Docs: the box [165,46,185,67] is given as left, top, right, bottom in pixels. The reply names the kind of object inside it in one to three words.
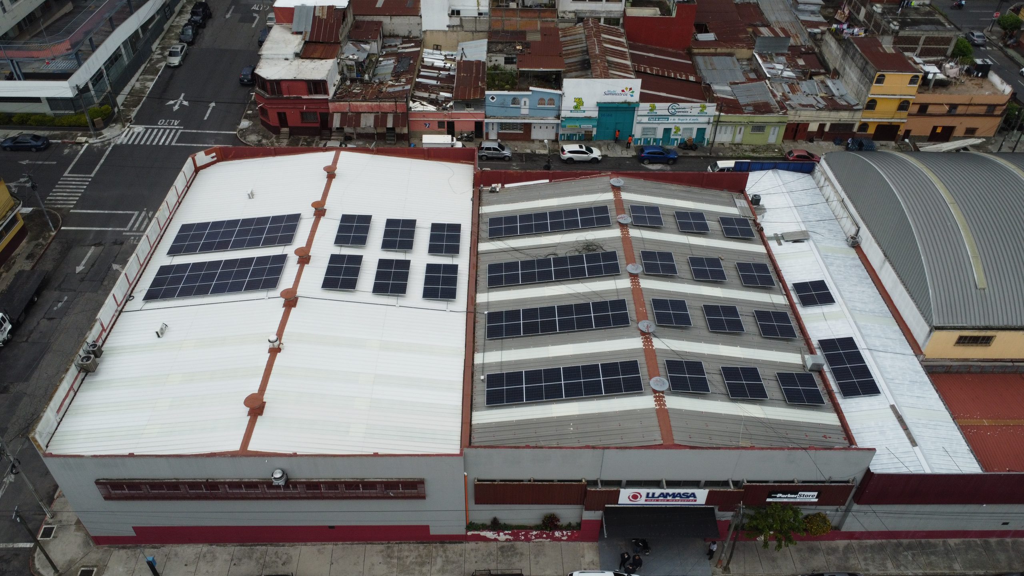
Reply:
car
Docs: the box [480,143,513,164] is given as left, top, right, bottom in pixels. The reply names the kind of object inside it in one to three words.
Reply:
car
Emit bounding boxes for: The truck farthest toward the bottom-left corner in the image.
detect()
[0,274,44,351]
